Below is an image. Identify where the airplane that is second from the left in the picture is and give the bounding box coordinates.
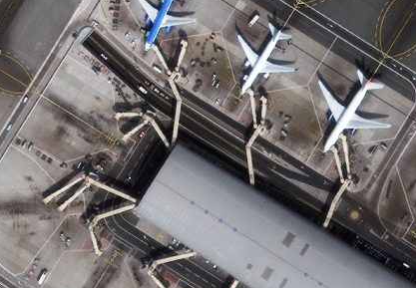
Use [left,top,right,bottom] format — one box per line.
[237,24,299,95]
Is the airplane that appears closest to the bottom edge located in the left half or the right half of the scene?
right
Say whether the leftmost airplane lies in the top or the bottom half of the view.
top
